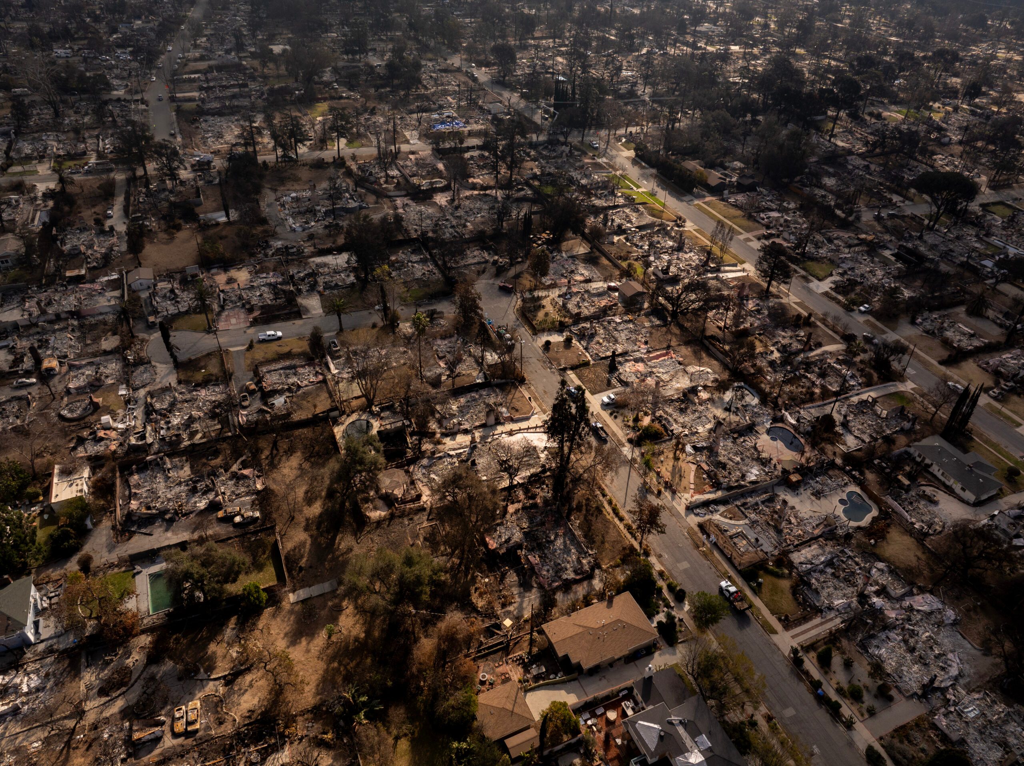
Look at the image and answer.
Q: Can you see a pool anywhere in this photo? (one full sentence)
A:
Yes, a pool appears in the view.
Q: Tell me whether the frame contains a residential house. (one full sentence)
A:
Yes, there's a residential house here.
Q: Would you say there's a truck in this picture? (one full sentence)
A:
Yes, the photo shows a truck.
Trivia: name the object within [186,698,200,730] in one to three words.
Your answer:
car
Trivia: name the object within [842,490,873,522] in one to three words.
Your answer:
swimming pool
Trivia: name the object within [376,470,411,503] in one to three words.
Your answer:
gazebo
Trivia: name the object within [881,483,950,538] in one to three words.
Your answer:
house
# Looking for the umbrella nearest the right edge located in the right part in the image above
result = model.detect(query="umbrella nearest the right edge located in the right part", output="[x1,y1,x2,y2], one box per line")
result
[782,452,803,466]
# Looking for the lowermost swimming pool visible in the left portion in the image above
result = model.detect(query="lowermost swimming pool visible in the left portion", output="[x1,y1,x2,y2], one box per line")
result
[147,560,173,616]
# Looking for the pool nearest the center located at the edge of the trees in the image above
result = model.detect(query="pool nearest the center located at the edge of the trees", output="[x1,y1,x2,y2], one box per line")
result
[345,419,373,442]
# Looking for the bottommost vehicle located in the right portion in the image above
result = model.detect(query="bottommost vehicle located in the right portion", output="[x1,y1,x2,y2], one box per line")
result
[714,576,760,614]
